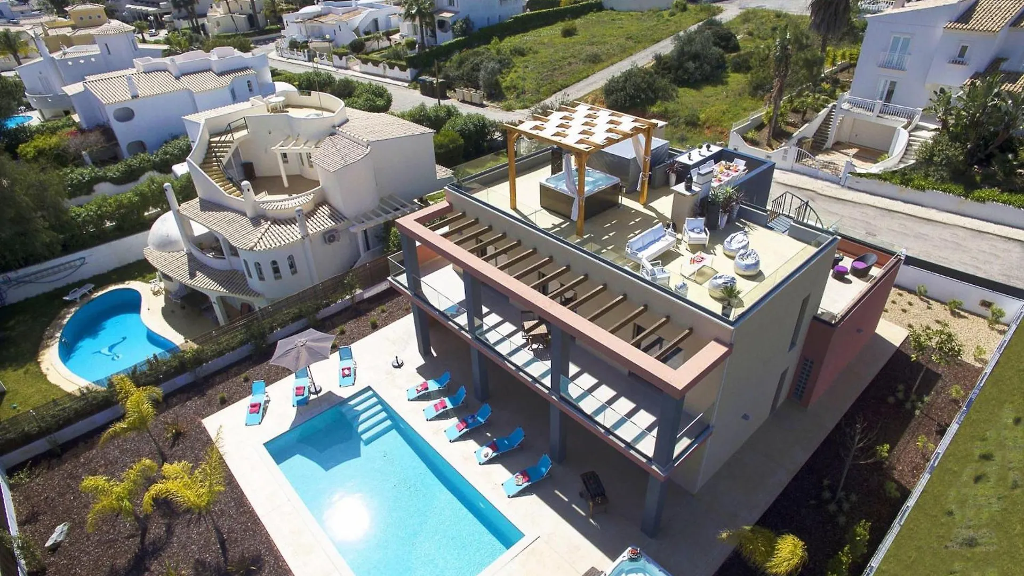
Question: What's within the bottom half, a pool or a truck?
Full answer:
What appears within the bottom half is a pool.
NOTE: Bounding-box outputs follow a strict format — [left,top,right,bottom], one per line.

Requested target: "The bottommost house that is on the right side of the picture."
[388,137,904,539]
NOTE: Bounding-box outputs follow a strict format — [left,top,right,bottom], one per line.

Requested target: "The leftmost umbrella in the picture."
[271,328,335,396]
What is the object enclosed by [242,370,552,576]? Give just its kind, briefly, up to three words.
swimming pool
